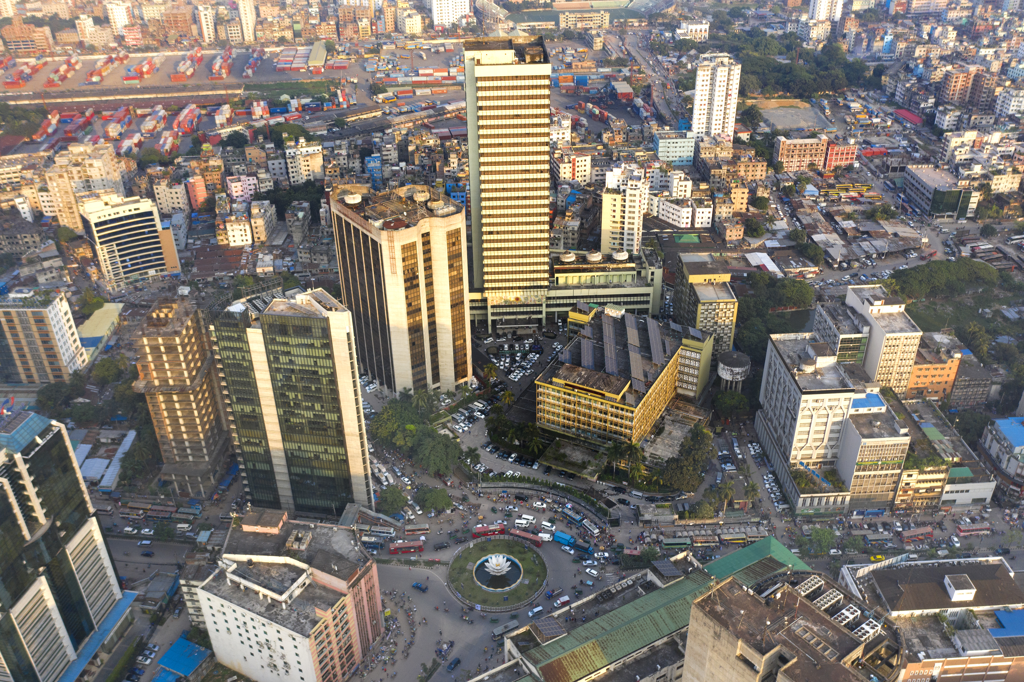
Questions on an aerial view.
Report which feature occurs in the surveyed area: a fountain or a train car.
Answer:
fountain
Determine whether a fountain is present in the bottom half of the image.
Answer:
Yes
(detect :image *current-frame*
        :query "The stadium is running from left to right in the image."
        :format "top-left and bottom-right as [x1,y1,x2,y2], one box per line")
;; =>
[470,0,706,33]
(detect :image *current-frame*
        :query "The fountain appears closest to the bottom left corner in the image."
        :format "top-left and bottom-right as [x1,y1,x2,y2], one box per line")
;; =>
[471,551,524,593]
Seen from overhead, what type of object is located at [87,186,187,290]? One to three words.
building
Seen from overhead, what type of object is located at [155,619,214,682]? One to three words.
shed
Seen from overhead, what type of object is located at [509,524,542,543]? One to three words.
vehicle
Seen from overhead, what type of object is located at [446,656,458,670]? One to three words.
vehicle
